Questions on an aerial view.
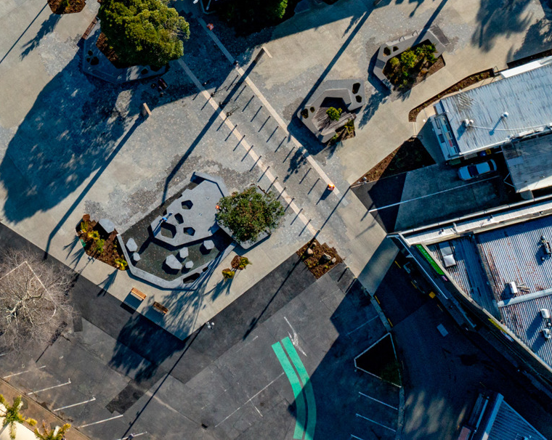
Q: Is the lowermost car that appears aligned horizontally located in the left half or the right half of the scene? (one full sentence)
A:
The lowermost car that appears aligned horizontally is on the right side of the image.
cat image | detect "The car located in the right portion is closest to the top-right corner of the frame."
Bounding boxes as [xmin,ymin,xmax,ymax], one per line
[455,158,500,181]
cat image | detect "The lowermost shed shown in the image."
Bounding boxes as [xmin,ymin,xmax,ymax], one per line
[458,390,552,440]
